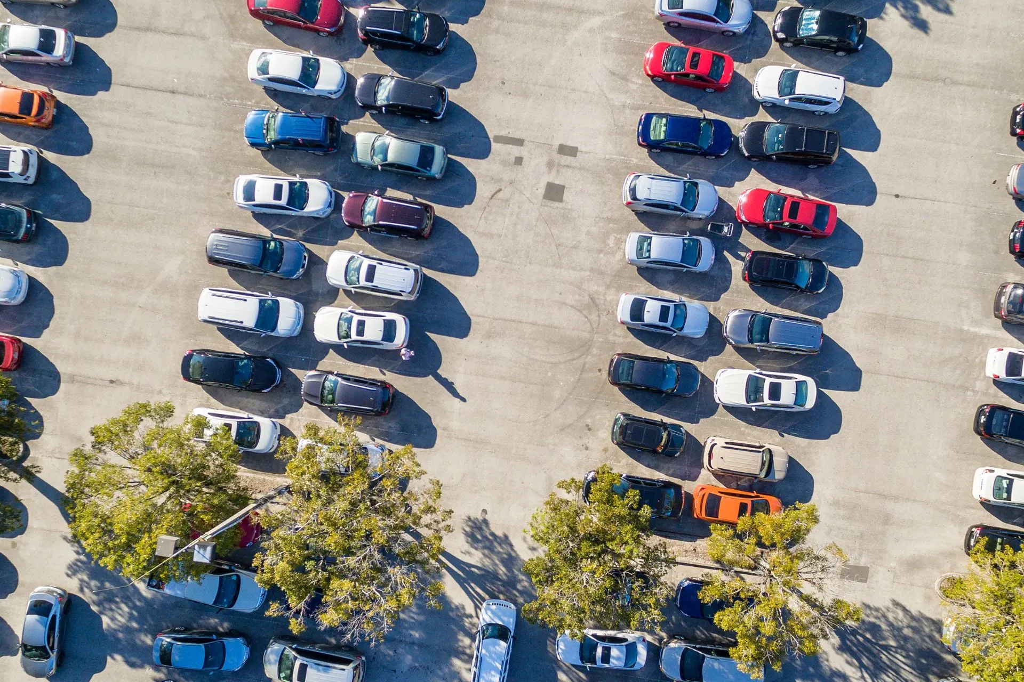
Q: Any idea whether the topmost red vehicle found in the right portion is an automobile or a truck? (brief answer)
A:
automobile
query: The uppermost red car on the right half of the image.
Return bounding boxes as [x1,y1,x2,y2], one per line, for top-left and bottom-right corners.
[643,36,734,91]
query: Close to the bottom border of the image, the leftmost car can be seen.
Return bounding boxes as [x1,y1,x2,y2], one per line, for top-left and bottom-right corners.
[14,584,75,675]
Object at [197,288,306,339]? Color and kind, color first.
white car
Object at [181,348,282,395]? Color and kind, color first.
black car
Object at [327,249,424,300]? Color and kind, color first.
white car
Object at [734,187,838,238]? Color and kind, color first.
red car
